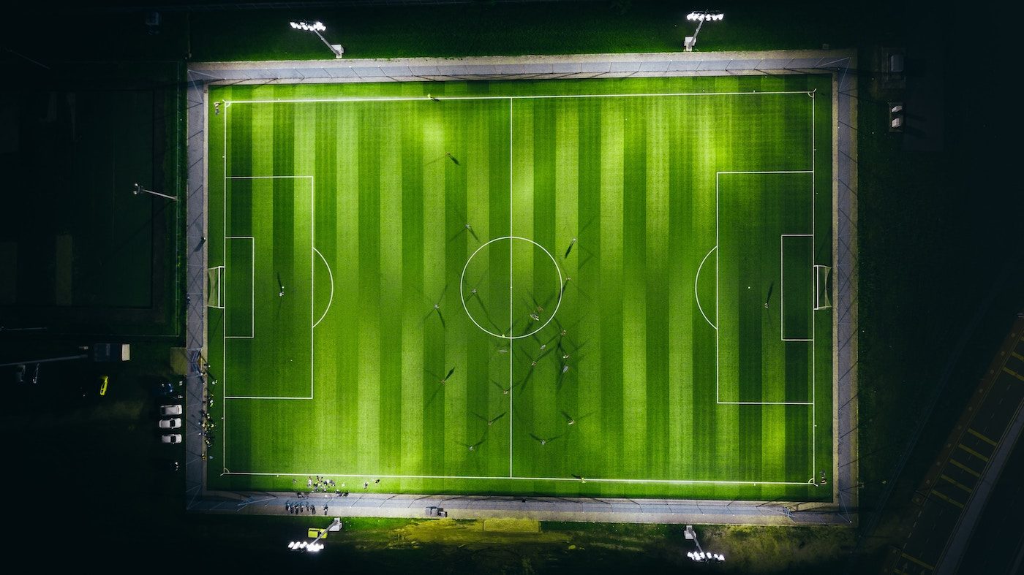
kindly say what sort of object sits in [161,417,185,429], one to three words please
vehicle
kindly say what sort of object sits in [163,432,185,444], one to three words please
vehicle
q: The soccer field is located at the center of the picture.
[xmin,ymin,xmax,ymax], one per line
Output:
[207,73,833,502]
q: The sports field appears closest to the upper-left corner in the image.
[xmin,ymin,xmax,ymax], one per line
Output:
[0,78,165,319]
